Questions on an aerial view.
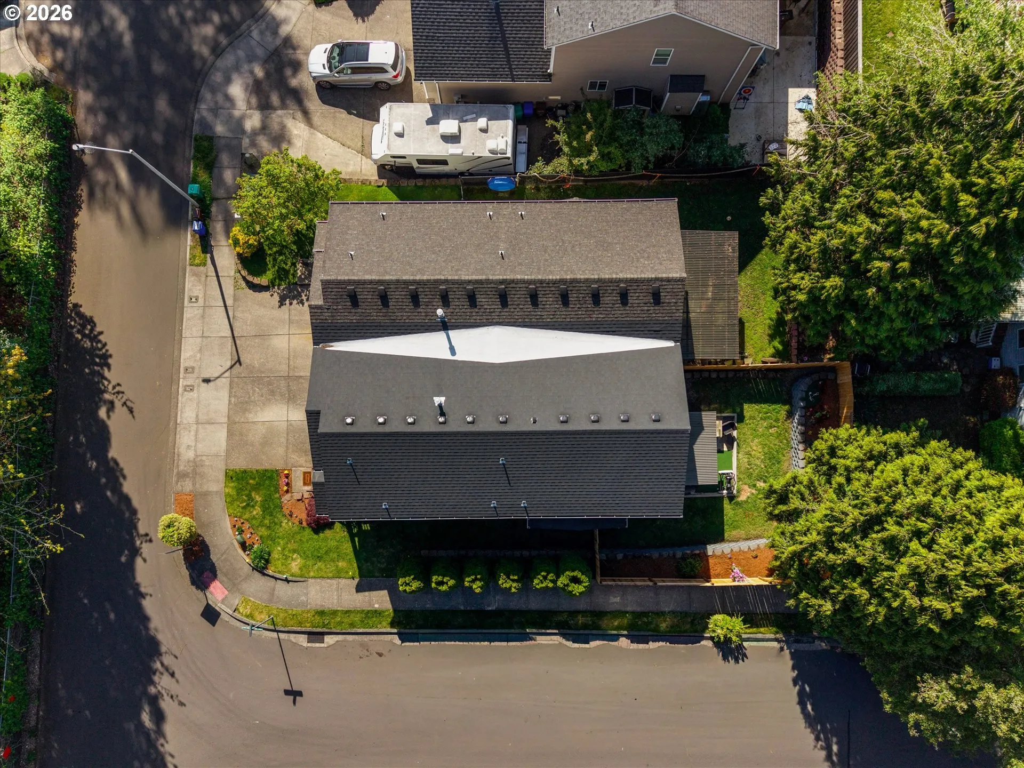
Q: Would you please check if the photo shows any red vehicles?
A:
No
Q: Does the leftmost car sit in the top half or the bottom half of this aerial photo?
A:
top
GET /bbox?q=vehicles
[303,42,404,92]
[372,104,514,173]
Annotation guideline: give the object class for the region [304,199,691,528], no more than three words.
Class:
house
